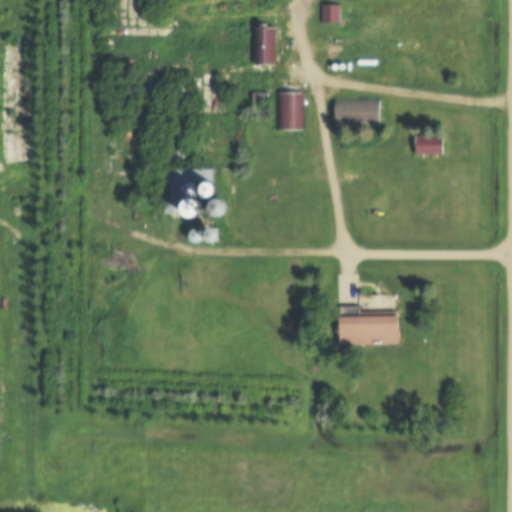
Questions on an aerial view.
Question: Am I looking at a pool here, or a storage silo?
storage silo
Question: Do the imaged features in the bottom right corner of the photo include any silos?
No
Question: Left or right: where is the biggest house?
right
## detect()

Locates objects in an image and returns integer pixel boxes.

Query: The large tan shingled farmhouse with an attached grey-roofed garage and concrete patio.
[338,306,400,345]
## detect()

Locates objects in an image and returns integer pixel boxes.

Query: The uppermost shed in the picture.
[320,4,342,22]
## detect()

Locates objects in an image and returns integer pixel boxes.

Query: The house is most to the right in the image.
[415,135,444,158]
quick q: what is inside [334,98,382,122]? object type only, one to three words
shed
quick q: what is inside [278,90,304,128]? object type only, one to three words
barn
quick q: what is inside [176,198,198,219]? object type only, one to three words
silo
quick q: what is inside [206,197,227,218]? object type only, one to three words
silo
